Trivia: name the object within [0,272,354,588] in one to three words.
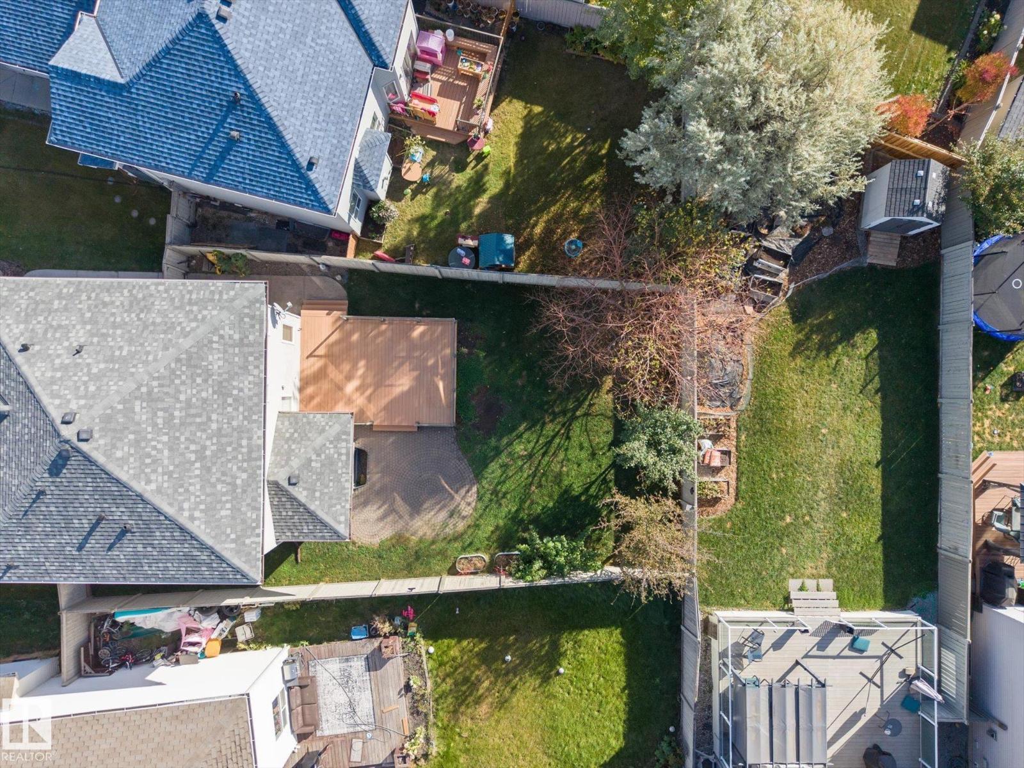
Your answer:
house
